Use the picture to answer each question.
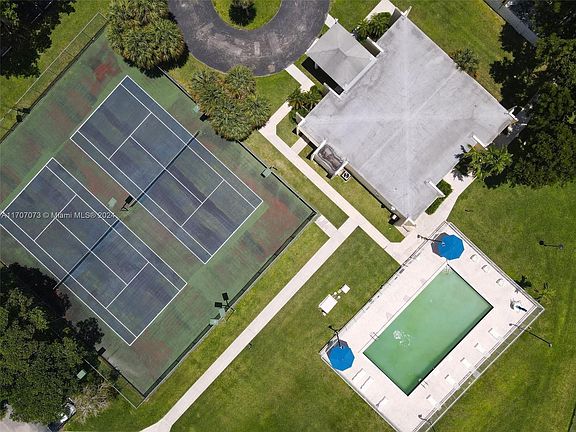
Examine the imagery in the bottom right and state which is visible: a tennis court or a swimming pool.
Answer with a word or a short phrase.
swimming pool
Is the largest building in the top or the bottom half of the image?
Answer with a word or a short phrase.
top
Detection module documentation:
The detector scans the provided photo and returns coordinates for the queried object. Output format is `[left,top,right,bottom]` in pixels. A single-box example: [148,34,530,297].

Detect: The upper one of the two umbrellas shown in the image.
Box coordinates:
[437,233,464,260]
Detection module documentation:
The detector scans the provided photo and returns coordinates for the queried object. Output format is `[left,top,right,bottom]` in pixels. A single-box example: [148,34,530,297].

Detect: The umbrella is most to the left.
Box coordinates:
[327,341,354,369]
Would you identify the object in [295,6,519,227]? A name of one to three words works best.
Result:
building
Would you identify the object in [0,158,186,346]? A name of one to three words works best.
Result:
tennis court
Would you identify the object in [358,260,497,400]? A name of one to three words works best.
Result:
swimming pool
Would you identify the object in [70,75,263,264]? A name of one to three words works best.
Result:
tennis court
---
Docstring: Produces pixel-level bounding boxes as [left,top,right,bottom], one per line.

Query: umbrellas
[327,341,354,369]
[437,233,464,260]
